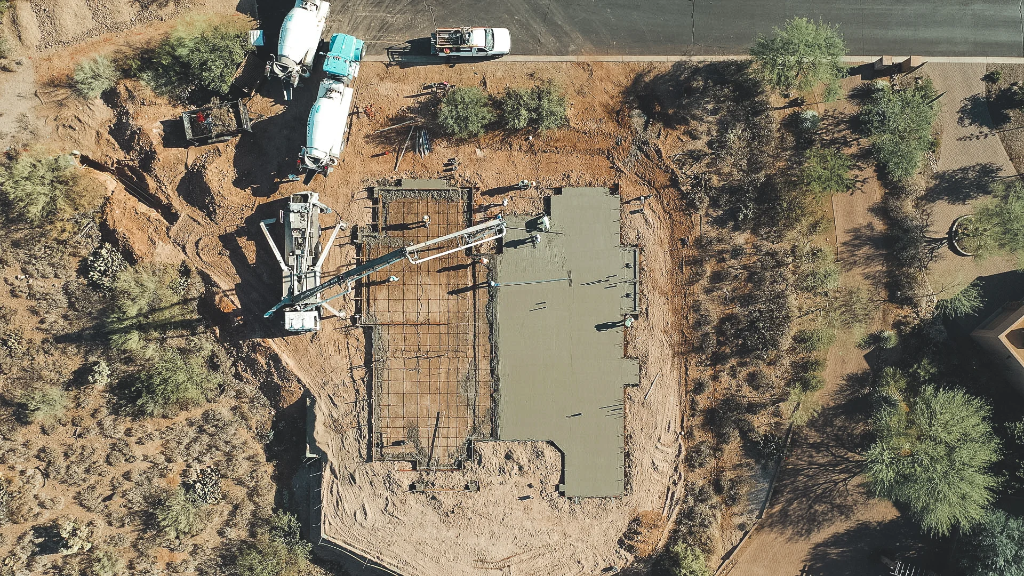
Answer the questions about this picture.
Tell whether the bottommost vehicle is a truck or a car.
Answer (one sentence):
I'd identify the bottommost vehicle as a truck.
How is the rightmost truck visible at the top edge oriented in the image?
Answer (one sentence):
I'd say the rightmost truck visible at the top edge is aligned from side to side in the picture.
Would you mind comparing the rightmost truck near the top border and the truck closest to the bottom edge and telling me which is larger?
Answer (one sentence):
The truck closest to the bottom edge takes up more space than the rightmost truck near the top border does.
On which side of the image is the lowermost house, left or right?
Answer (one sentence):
The lowermost house is on the right side of the image.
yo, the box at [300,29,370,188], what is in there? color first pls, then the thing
white truck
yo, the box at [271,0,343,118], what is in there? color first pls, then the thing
white truck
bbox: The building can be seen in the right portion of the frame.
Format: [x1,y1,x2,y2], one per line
[941,281,1024,409]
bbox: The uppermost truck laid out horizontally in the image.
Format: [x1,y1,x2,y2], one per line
[430,23,512,60]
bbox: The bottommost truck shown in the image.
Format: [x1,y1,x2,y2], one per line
[261,193,519,330]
